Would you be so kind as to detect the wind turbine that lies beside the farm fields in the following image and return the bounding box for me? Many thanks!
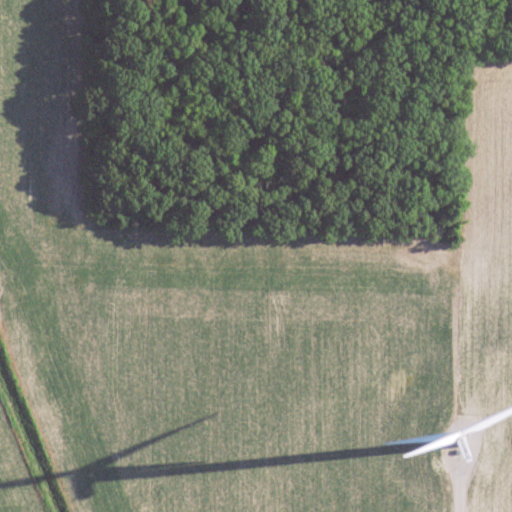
[383,410,512,462]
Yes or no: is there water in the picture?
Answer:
No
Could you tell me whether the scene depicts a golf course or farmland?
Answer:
farmland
